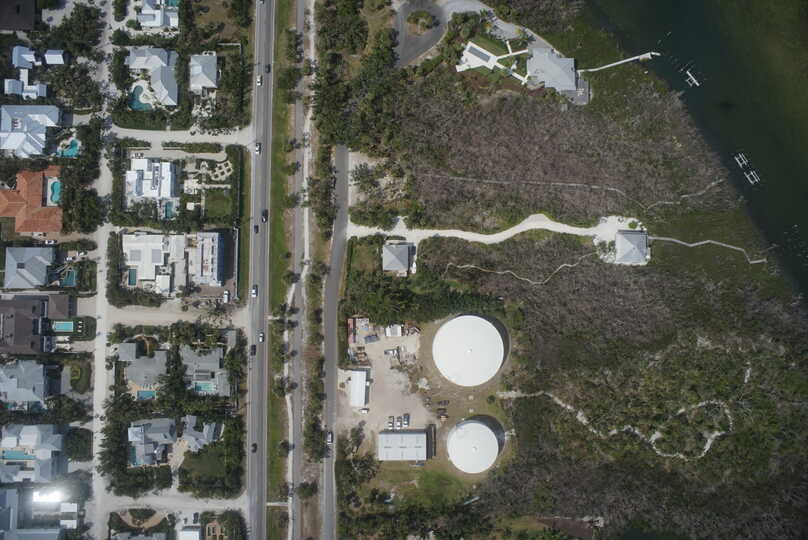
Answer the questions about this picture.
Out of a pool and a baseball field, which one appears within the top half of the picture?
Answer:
pool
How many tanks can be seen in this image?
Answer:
2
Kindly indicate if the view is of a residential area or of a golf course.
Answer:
residential area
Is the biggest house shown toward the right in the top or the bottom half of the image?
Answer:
top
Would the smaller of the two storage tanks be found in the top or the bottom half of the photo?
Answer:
bottom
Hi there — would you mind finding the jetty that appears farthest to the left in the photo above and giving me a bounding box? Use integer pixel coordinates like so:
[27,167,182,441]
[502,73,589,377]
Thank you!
[578,51,662,73]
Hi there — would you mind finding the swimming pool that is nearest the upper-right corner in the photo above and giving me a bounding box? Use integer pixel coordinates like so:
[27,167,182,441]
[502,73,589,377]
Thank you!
[456,41,529,84]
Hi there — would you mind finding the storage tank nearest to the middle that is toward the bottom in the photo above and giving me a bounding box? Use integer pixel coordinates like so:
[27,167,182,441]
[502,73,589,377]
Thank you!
[432,314,504,387]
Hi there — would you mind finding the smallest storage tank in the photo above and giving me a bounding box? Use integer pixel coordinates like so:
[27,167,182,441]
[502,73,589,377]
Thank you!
[447,418,499,474]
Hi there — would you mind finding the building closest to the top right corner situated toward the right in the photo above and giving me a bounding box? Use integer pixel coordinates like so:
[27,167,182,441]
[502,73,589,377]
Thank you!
[528,47,588,103]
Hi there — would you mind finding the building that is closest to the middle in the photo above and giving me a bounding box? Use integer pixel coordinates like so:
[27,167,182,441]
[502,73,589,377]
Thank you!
[383,243,409,275]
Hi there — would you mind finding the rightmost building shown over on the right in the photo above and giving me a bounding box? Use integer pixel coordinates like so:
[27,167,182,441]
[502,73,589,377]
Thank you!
[613,231,649,264]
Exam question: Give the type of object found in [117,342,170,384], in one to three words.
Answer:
house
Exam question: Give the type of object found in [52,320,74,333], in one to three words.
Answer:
swimming pool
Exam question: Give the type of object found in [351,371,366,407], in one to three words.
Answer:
shed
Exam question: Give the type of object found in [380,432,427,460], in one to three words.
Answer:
building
